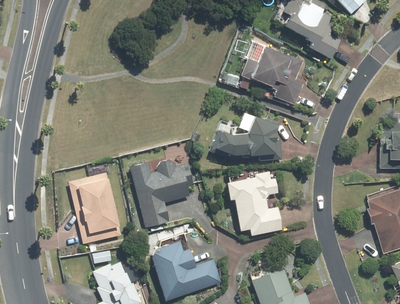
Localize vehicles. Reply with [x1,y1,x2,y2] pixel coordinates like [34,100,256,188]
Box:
[346,68,358,83]
[300,98,316,109]
[66,237,80,246]
[64,216,77,232]
[334,52,350,66]
[6,205,15,222]
[362,243,378,258]
[279,124,290,142]
[335,84,348,102]
[194,252,210,264]
[316,195,324,211]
